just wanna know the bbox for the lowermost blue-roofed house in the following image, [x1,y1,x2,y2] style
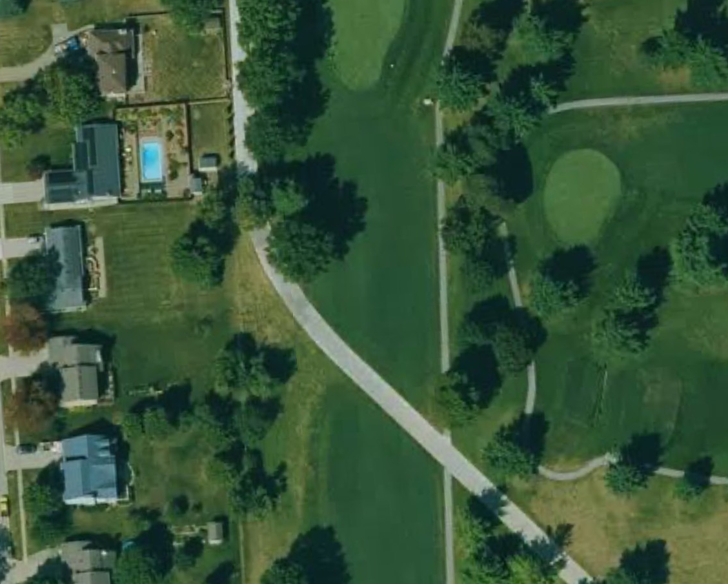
[62,434,131,504]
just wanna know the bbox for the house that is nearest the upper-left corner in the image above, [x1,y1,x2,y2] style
[91,28,135,101]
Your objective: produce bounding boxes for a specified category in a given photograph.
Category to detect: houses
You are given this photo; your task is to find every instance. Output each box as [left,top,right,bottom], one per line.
[60,539,116,584]
[62,434,131,504]
[45,121,121,208]
[91,28,135,101]
[46,224,85,313]
[49,335,114,407]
